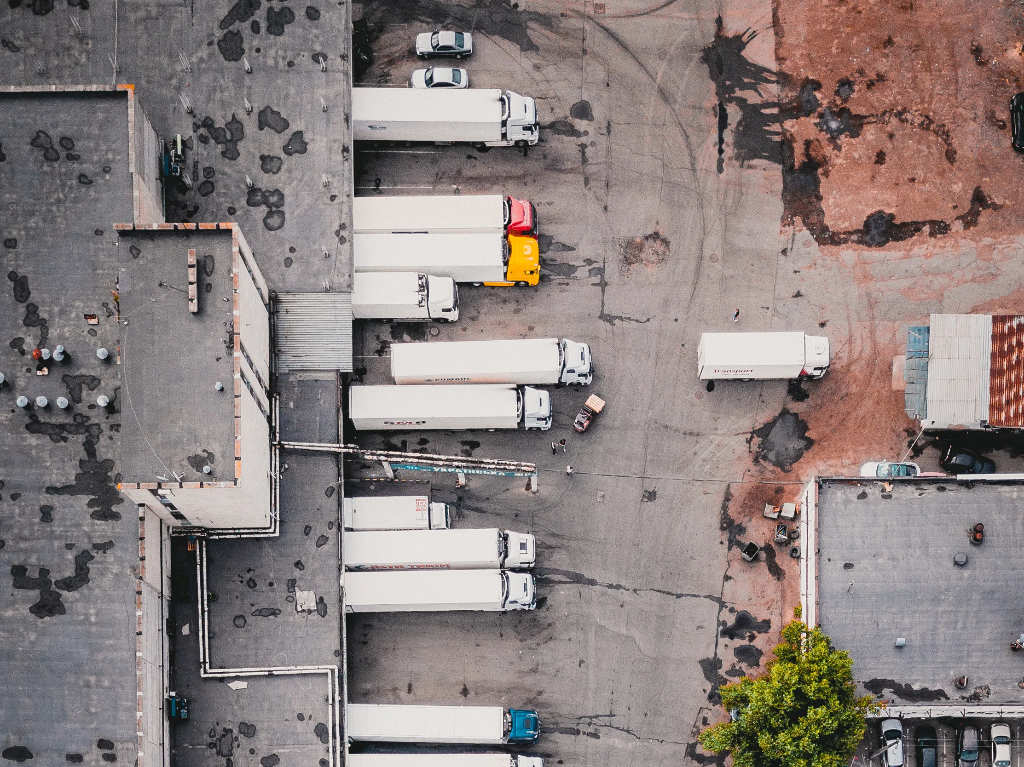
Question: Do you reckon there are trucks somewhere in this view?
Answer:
Yes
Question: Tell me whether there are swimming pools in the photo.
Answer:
No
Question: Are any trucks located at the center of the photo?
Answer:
Yes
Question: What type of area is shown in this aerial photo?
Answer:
industrial area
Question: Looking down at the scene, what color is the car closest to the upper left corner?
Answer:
black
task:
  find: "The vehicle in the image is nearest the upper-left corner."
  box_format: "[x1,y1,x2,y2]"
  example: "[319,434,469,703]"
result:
[352,15,378,73]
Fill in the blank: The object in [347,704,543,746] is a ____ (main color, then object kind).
white truck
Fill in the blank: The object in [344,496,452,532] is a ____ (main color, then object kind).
white truck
